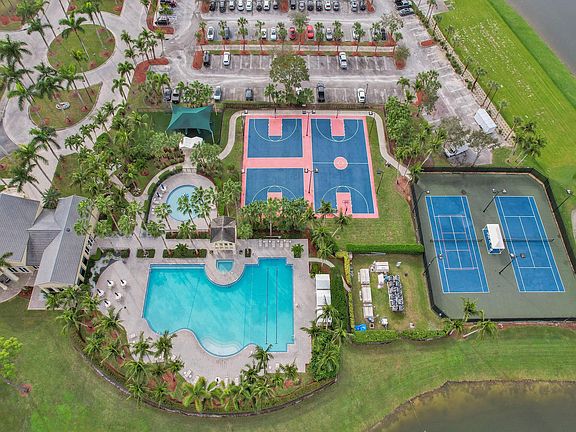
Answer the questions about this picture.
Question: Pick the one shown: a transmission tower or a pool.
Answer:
pool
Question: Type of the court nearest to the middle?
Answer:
basketball court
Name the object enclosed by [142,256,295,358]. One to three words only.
swimming pool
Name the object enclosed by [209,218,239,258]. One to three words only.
gazebo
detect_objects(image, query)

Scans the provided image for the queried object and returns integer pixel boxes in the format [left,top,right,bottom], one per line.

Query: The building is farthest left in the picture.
[0,194,99,294]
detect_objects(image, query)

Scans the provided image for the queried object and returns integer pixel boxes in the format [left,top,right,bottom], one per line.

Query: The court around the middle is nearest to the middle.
[240,163,309,218]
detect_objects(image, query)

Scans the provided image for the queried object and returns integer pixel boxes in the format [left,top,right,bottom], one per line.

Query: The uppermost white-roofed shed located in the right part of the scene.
[470,109,498,137]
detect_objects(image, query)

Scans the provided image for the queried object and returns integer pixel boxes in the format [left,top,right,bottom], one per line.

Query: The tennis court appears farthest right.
[474,173,576,321]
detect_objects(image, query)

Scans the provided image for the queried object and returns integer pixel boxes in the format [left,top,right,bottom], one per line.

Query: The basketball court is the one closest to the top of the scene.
[242,115,308,163]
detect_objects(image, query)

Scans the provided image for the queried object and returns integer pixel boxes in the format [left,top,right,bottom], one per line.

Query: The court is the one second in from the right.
[414,173,511,320]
